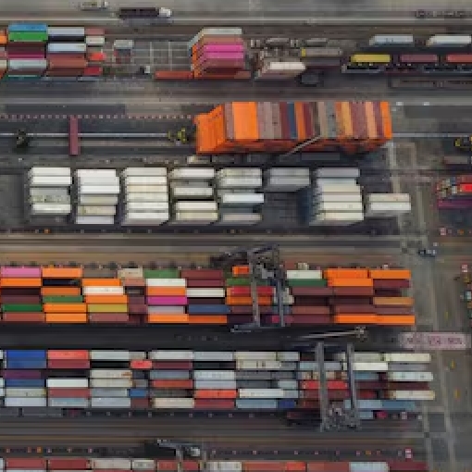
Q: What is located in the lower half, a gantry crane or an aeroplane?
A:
gantry crane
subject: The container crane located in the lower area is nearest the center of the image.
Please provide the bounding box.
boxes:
[217,246,301,330]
